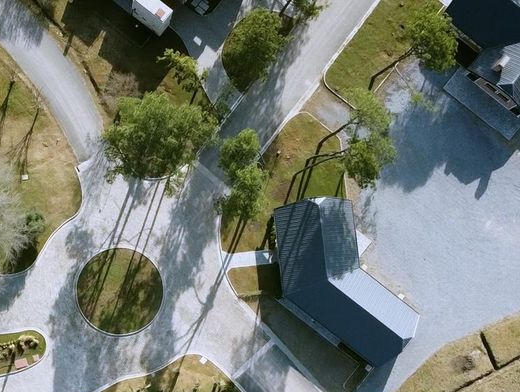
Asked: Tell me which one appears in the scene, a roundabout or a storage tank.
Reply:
roundabout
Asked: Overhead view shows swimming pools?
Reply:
No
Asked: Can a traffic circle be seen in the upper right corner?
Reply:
No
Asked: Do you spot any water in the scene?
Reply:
No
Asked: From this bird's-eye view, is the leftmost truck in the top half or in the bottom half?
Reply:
top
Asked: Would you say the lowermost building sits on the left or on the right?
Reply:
right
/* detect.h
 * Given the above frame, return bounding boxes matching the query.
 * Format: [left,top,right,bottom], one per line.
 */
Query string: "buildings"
[434,0,520,141]
[269,194,423,371]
